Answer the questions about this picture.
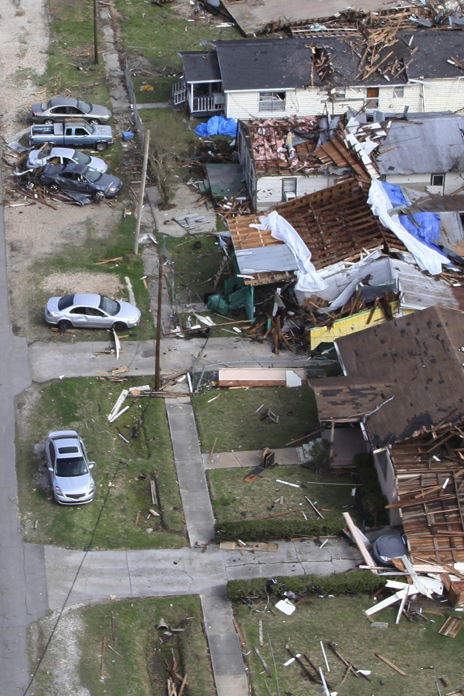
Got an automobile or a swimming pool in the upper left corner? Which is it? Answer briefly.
automobile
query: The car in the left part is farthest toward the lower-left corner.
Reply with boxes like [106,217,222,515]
[45,435,96,504]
